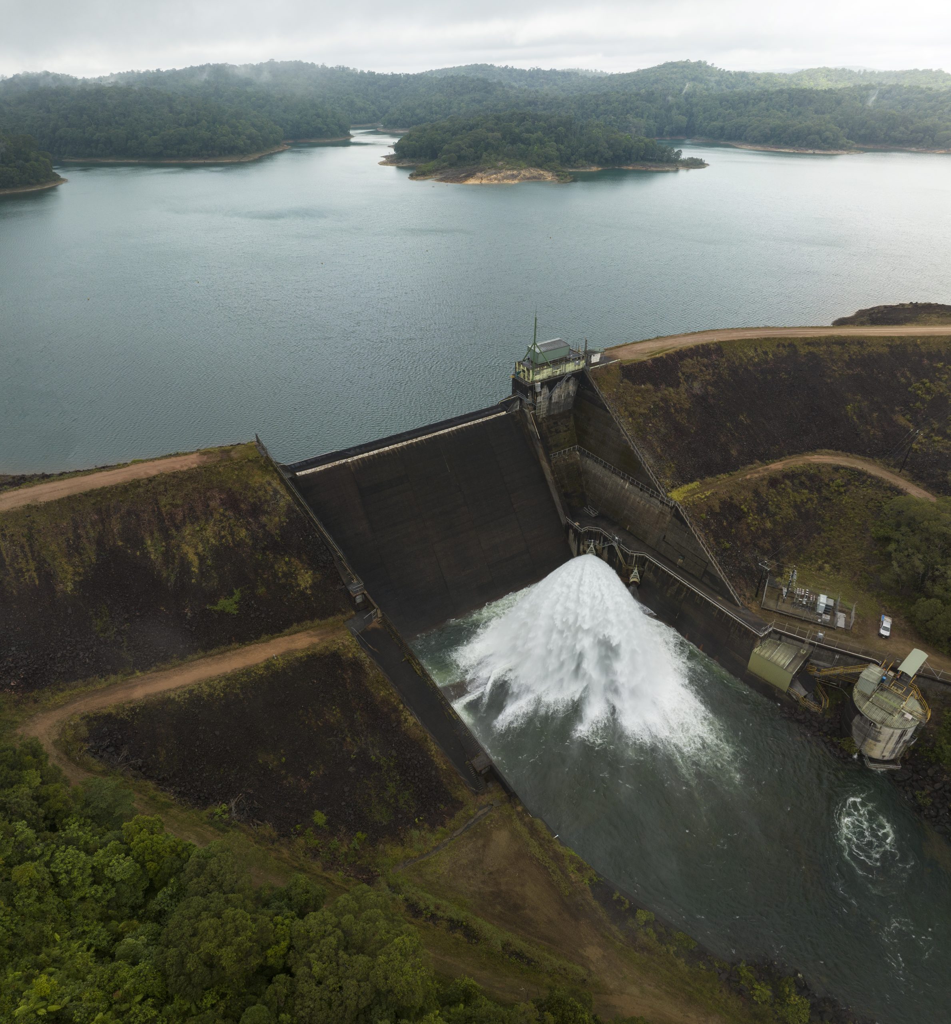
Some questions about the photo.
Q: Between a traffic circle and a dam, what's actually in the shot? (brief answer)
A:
dam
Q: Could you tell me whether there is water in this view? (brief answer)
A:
Yes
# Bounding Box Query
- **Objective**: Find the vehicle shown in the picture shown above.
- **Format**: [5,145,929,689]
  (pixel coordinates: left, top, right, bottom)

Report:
[877,613,894,640]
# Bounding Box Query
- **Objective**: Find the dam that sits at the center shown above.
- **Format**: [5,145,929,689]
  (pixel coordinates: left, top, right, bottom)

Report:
[285,387,567,717]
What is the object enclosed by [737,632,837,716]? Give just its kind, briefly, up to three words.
shed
